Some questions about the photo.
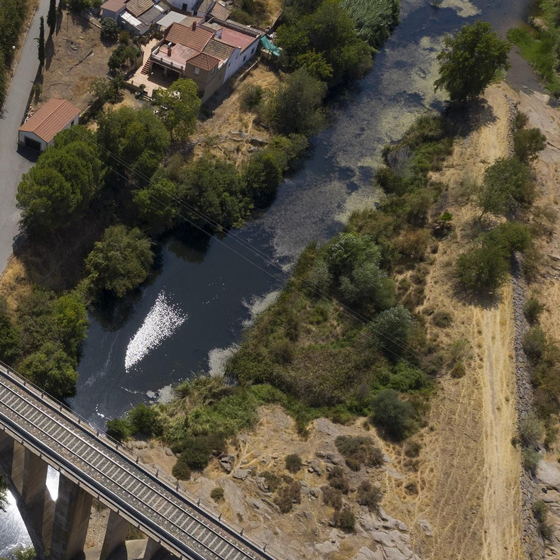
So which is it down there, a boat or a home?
home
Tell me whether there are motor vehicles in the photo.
No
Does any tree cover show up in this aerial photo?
Yes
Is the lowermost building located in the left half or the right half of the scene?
left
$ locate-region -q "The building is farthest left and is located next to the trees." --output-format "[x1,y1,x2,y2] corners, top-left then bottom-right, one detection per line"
[19,98,80,161]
